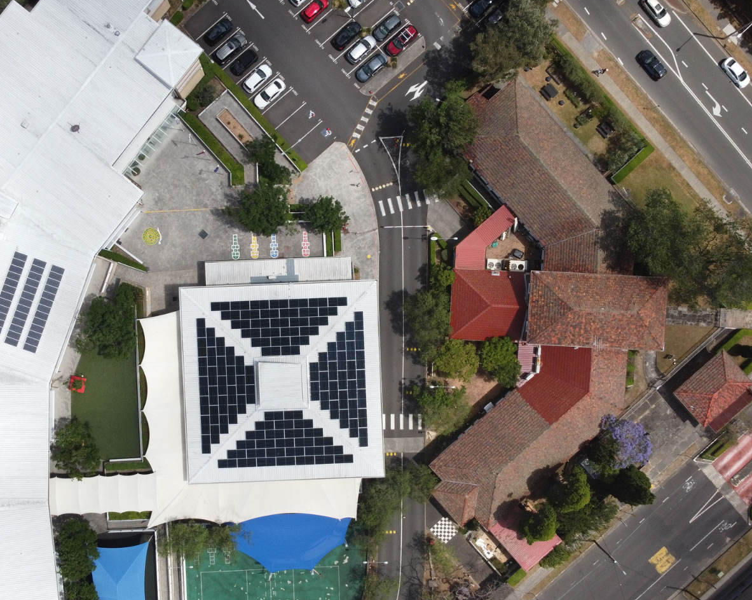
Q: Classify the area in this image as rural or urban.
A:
urban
